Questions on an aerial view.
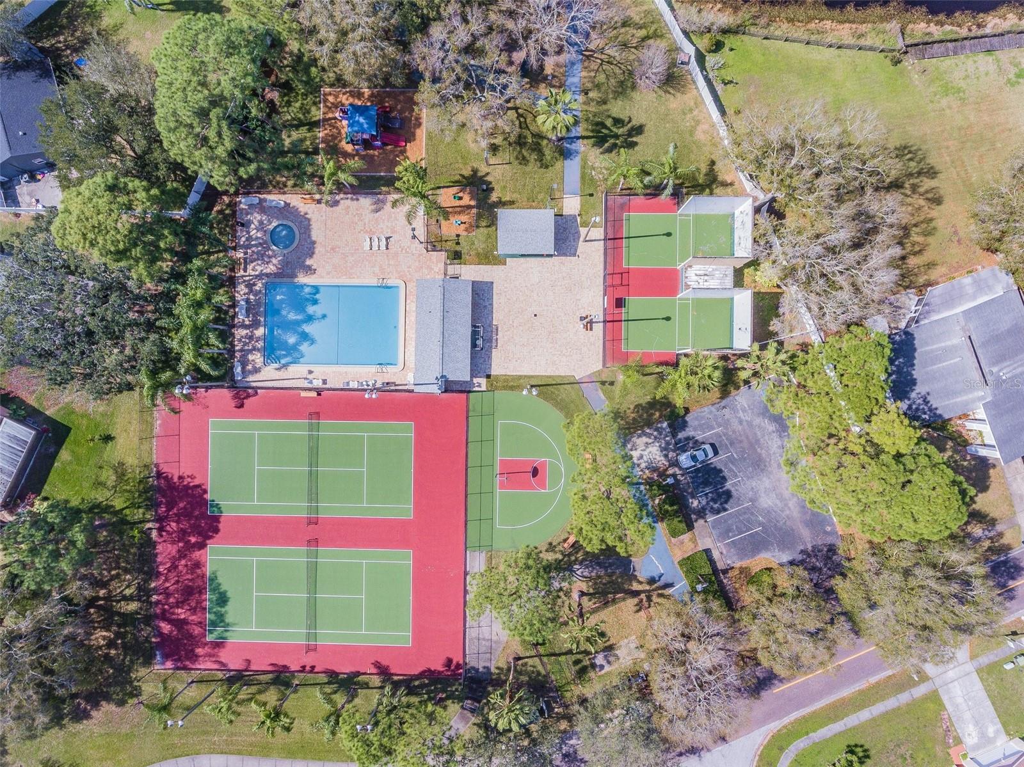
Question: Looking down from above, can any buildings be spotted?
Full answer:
Yes, there's a building here.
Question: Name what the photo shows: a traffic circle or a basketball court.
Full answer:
This aerial view contains a basketball court.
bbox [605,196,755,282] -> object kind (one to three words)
sports court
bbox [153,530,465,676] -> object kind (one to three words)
tennis court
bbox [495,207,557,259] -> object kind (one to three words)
building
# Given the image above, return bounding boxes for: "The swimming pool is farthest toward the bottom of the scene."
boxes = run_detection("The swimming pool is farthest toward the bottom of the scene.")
[263,276,405,371]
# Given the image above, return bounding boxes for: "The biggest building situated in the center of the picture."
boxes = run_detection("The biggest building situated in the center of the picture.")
[414,279,472,392]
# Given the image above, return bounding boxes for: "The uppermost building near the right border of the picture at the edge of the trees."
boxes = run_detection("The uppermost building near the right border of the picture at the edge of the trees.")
[888,267,1024,465]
